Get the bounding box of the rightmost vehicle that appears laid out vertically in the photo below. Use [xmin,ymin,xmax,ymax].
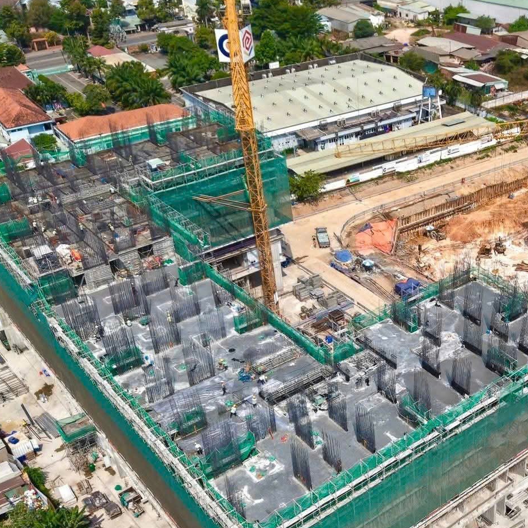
[493,223,508,256]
